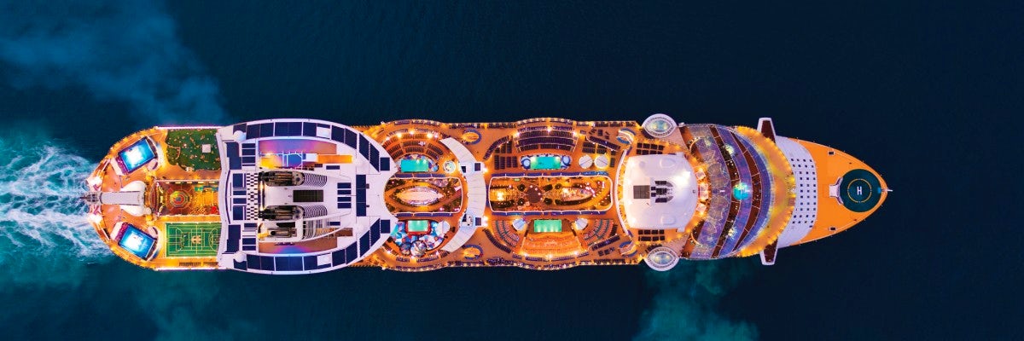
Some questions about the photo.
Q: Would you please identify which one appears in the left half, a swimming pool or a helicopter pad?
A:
swimming pool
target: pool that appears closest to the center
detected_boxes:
[521,154,573,171]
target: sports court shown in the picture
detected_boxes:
[165,223,222,257]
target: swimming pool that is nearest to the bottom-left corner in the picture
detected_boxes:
[108,218,161,262]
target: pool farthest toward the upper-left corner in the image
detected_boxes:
[112,134,159,179]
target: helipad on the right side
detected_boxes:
[840,169,883,212]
